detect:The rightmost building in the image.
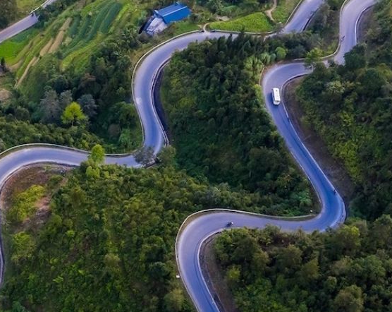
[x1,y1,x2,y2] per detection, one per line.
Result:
[154,7,193,32]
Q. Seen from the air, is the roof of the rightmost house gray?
No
